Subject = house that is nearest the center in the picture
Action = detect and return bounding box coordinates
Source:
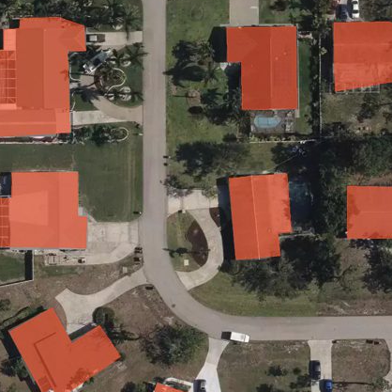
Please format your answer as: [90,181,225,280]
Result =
[229,174,293,260]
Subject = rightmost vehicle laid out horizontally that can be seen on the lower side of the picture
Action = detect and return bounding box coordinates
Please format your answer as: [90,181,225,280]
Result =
[229,331,253,344]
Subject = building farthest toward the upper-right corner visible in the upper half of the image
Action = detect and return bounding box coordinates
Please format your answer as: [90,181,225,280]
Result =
[334,22,392,91]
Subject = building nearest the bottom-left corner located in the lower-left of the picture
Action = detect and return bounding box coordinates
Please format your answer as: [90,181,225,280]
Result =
[8,309,120,392]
